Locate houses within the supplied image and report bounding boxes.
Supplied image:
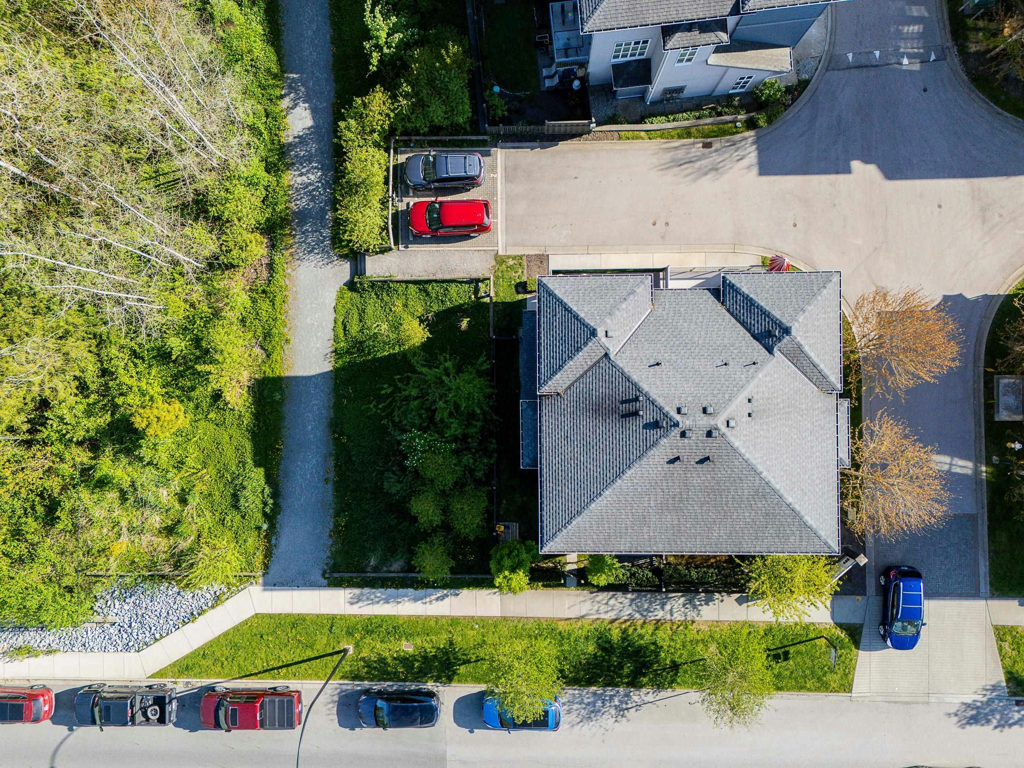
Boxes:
[574,0,856,105]
[518,268,854,557]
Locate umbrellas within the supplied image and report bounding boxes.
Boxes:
[772,247,794,270]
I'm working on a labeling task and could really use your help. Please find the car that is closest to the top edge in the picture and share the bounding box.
[404,147,485,189]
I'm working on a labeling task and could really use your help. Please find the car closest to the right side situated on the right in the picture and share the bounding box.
[880,567,928,652]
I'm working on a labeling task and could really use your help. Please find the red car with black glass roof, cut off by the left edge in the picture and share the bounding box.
[0,685,54,724]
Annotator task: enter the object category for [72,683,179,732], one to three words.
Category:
truck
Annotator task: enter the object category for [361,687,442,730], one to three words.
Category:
car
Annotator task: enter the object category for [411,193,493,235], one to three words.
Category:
car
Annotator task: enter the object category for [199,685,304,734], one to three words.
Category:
truck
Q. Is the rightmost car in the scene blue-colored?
Yes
